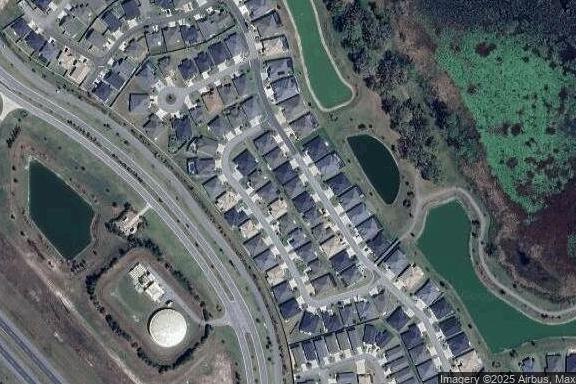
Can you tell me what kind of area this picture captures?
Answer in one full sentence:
The picture captures a residential area.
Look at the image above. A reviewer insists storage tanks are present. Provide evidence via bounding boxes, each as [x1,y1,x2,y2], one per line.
[149,309,187,347]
